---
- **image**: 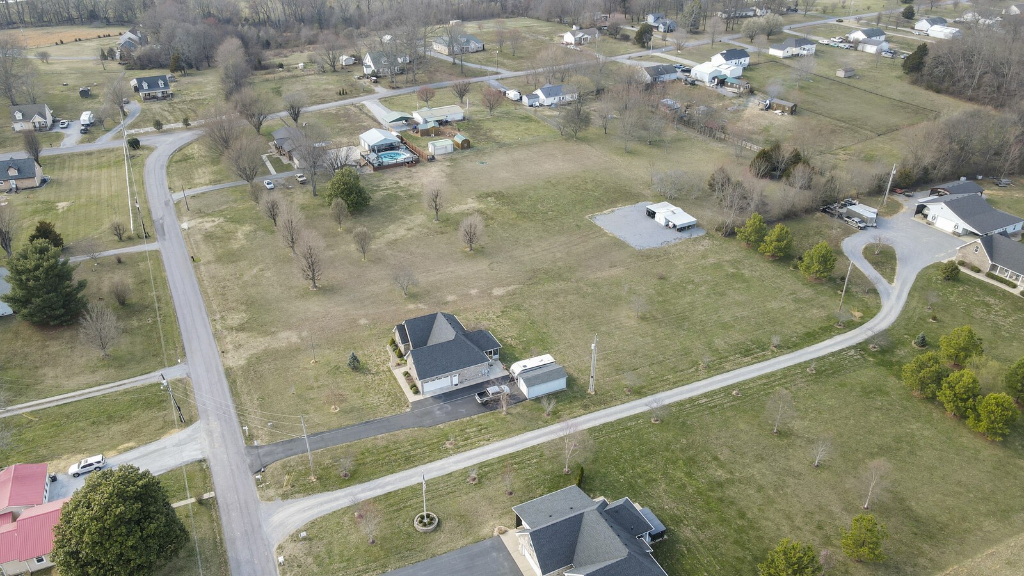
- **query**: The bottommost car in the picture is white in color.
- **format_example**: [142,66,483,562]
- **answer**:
[66,453,105,479]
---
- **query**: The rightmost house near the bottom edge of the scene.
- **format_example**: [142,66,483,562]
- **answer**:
[509,484,671,576]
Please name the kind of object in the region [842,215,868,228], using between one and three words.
vehicle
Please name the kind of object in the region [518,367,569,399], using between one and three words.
shed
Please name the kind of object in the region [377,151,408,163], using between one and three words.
swimming pool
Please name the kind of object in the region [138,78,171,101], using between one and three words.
house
